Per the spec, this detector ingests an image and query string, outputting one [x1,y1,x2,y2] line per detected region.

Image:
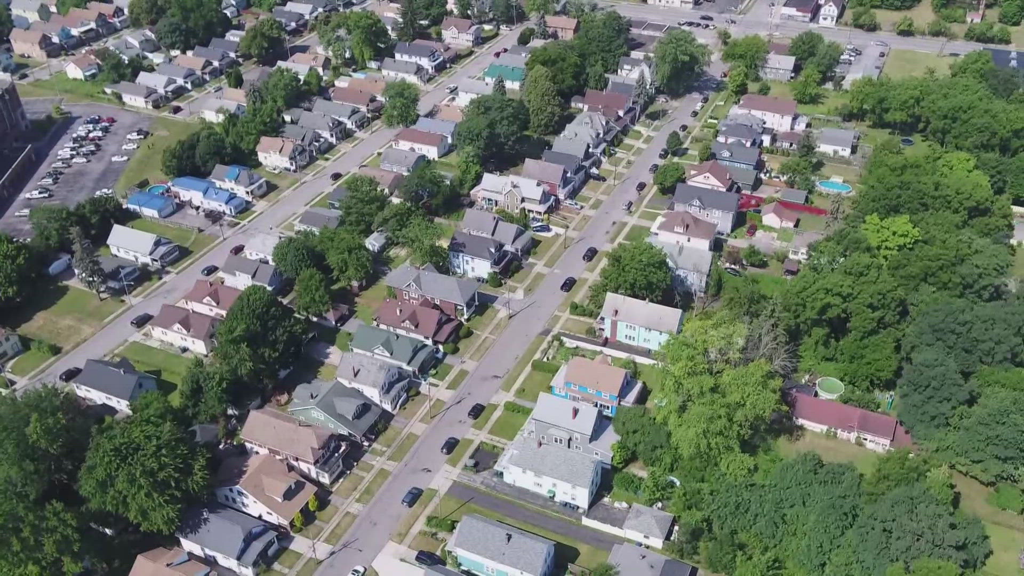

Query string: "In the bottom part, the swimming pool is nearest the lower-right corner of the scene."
[815,377,845,399]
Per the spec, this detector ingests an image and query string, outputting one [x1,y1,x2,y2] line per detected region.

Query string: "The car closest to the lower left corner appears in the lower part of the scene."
[57,363,81,384]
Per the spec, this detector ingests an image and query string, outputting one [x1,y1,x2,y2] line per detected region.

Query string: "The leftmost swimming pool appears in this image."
[146,184,169,196]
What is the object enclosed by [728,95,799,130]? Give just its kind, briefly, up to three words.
house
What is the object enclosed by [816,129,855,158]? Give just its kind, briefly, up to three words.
building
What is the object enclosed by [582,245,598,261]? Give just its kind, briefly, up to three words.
car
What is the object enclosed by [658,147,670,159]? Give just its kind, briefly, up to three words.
vehicle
